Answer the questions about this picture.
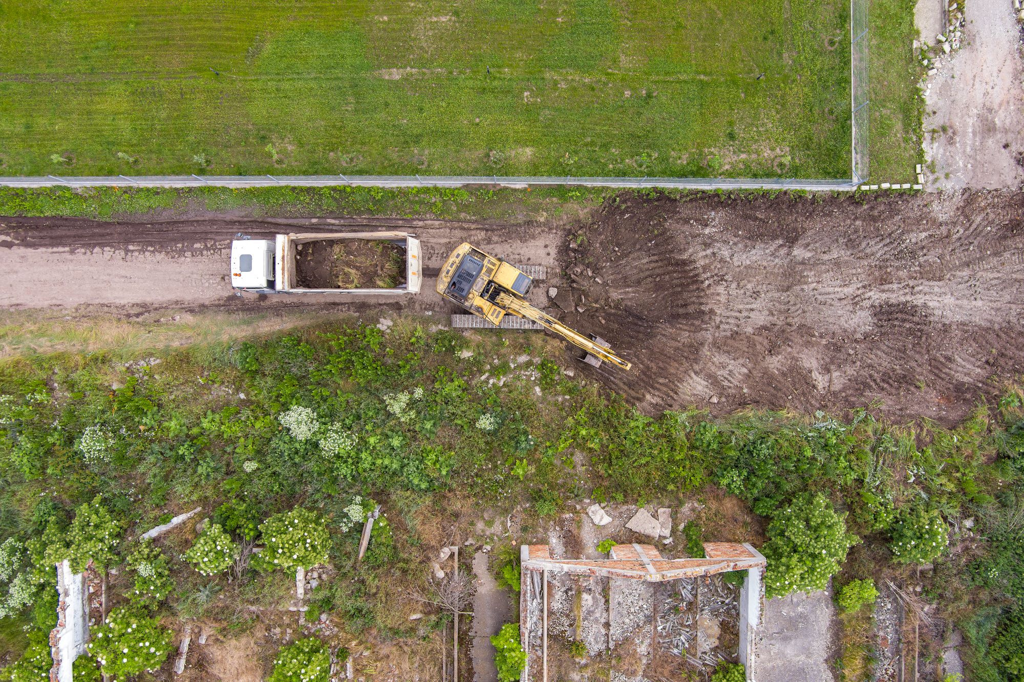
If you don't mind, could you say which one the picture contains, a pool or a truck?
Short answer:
truck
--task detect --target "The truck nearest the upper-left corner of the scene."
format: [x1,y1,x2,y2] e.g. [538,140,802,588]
[231,229,423,299]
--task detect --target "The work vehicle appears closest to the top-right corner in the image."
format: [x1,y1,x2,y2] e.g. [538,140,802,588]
[436,243,633,370]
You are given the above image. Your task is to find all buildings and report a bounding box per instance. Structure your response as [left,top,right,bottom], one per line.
[520,543,768,682]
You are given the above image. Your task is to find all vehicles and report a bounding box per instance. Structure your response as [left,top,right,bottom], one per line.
[436,243,633,370]
[231,229,423,299]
